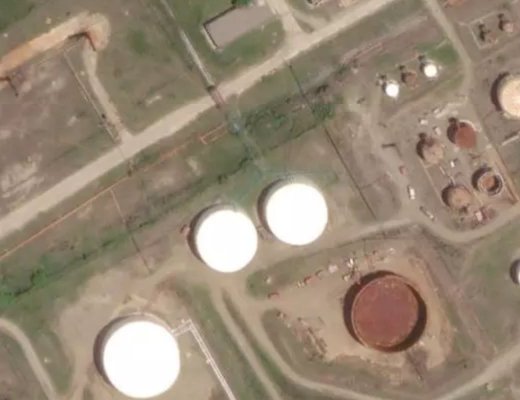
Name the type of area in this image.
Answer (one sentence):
The area seen from above is an industrial area.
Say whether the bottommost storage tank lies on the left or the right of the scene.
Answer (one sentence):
The bottommost storage tank appears in the left half of the scene.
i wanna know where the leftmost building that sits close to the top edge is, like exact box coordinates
[200,0,275,50]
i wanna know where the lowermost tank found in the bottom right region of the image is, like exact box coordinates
[348,271,427,350]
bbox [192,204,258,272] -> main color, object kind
white storage tank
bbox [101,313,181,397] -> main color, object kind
white storage tank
